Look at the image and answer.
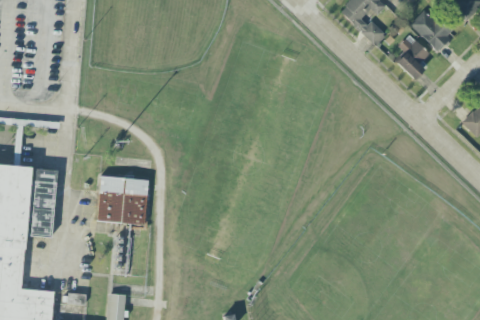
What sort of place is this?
sports ground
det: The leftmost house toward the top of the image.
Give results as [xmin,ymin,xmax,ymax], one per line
[341,0,390,46]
